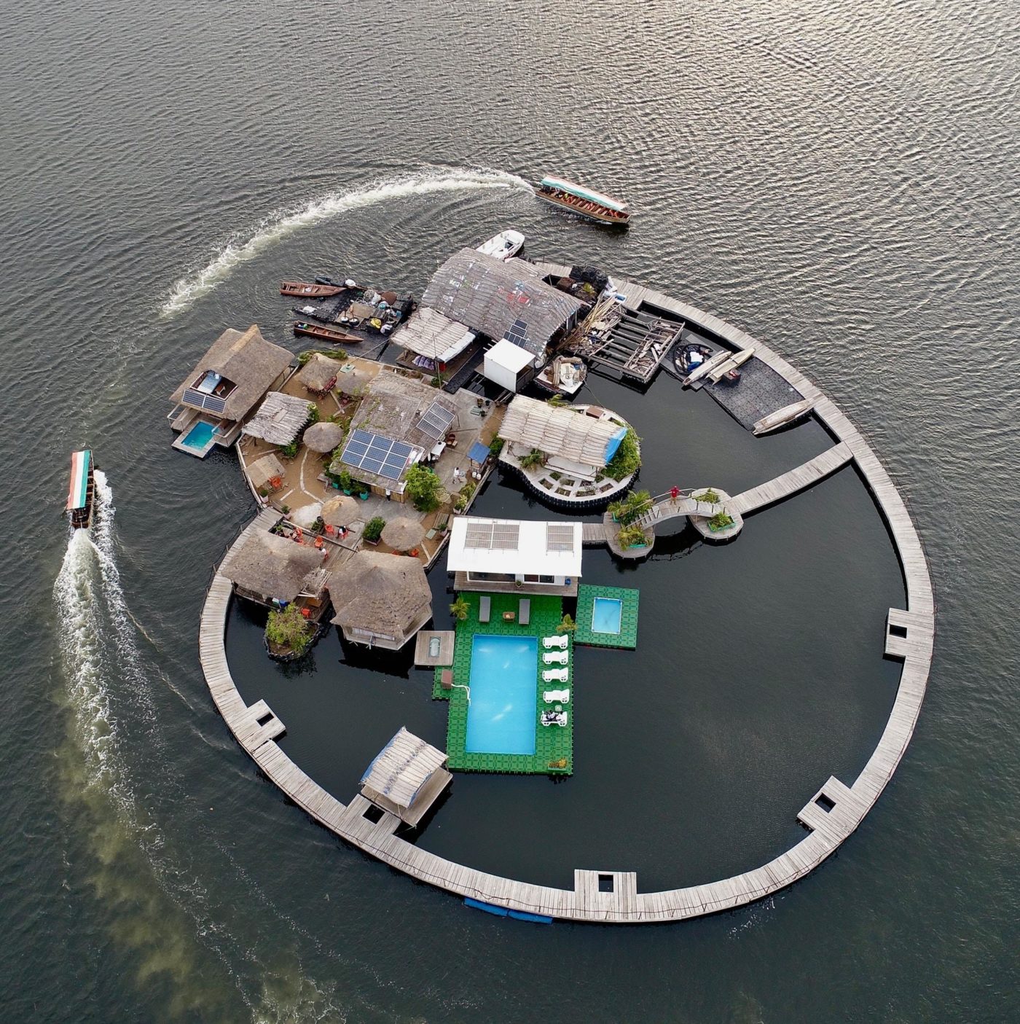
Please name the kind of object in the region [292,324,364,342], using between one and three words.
boat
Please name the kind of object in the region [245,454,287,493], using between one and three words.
shed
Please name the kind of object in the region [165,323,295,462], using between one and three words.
house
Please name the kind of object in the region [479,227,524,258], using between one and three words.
boat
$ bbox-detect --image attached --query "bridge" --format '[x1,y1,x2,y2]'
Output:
[628,490,720,534]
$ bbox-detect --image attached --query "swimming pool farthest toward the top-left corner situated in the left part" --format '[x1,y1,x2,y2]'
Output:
[181,422,220,452]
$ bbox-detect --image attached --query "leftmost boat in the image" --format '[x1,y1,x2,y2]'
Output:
[63,445,97,533]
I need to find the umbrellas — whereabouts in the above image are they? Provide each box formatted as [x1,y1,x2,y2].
[313,496,365,536]
[327,367,376,402]
[375,517,431,558]
[300,421,346,458]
